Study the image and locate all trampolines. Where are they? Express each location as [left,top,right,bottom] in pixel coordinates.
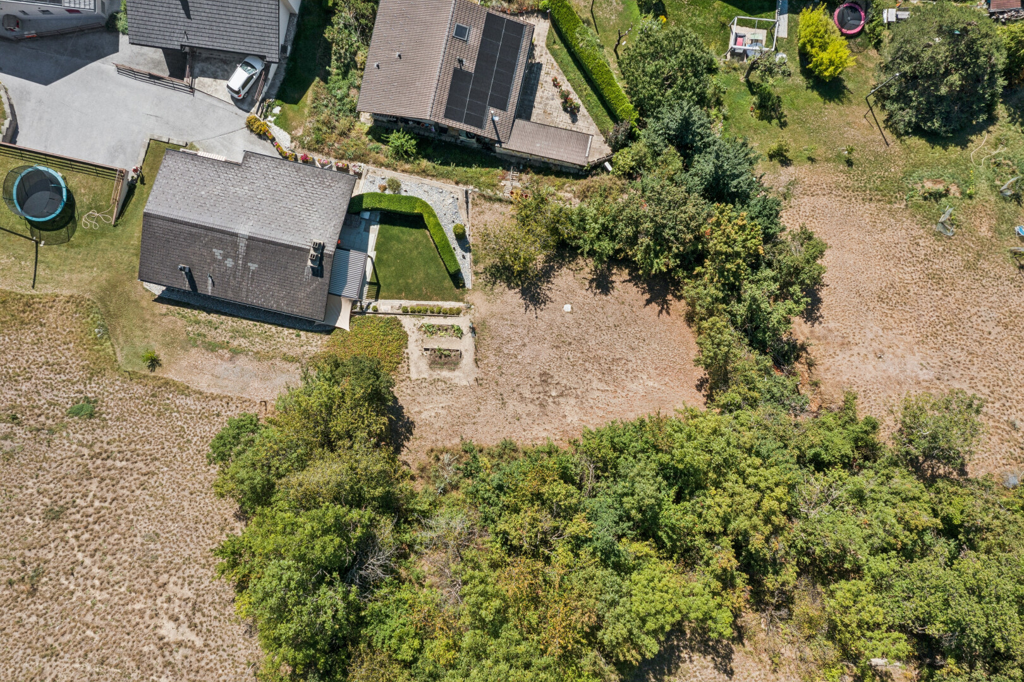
[0,161,72,221]
[833,0,873,37]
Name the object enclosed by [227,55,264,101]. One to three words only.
car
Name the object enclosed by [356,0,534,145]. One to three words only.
house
